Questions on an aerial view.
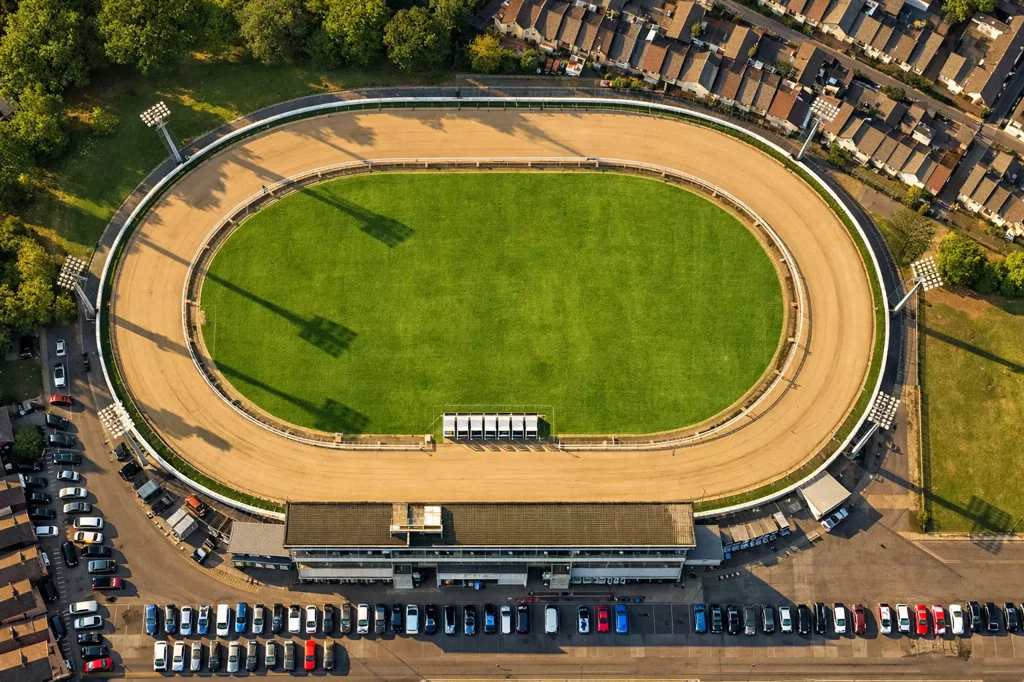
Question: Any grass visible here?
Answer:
Yes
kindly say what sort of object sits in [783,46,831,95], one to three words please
house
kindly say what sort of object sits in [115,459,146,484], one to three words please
car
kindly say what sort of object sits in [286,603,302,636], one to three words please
car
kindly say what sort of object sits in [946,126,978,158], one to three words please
house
